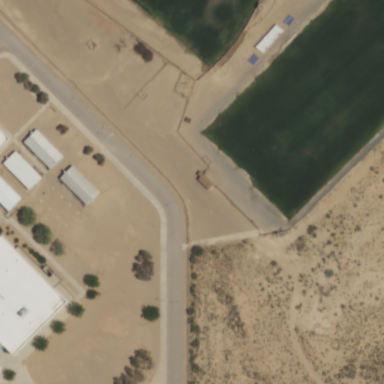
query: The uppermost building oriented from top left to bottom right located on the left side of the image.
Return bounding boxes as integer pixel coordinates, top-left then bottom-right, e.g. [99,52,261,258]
[24,129,62,169]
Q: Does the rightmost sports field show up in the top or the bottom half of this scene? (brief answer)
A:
top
